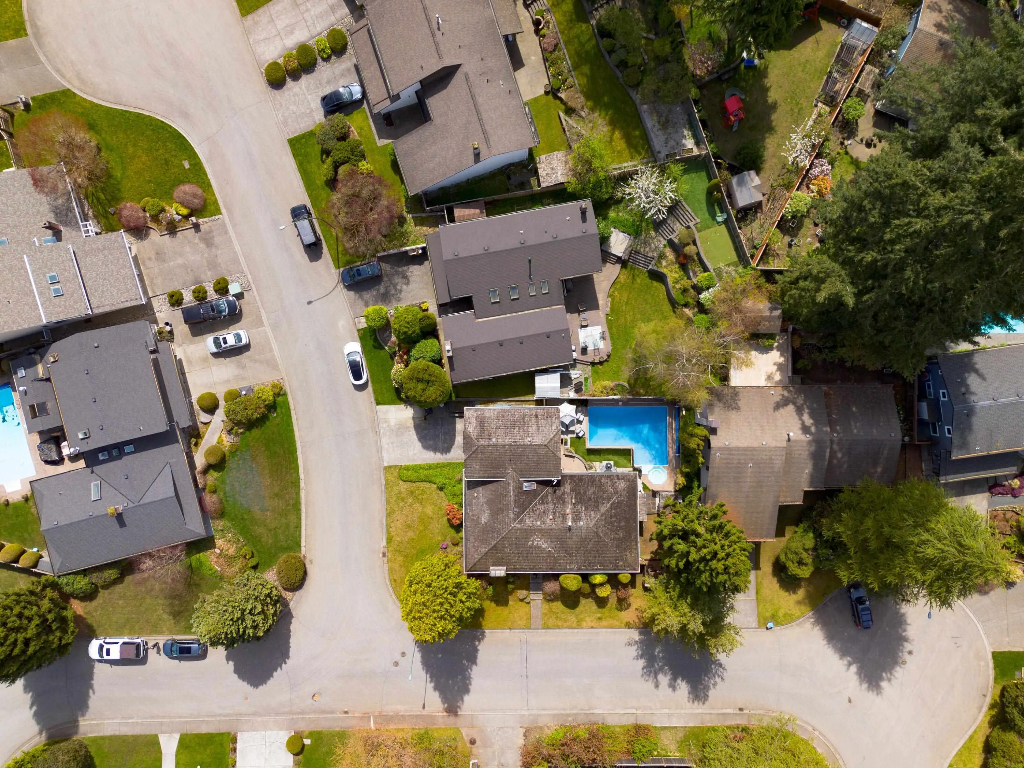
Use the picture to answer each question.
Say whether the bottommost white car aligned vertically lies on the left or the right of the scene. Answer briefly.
left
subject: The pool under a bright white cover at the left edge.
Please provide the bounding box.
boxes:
[0,382,37,495]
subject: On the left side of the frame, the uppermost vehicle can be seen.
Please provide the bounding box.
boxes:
[319,83,365,112]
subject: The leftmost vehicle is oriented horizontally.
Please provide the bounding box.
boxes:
[89,637,147,661]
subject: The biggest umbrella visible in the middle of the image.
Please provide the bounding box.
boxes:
[560,402,582,430]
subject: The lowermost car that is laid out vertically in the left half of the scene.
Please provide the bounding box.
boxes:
[344,341,368,386]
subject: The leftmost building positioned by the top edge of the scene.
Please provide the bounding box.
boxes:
[347,0,538,198]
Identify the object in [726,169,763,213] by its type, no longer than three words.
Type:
shed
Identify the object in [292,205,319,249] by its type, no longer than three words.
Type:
car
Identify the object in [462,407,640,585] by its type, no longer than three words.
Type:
house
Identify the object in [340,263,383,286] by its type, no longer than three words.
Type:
car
